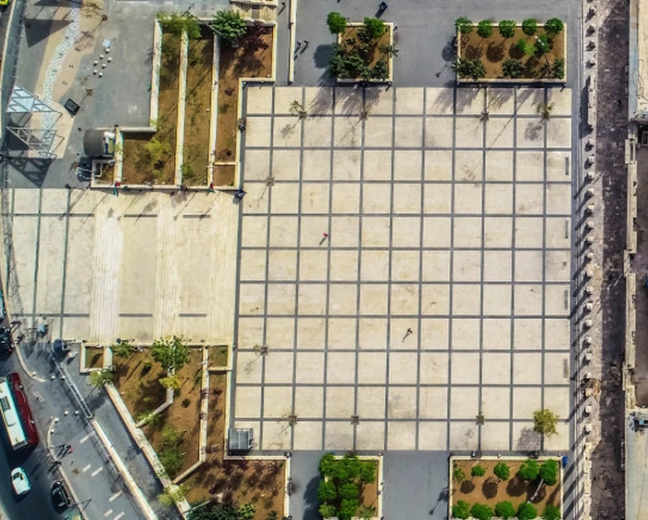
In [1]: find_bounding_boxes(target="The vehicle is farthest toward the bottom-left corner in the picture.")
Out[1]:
[13,467,32,495]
